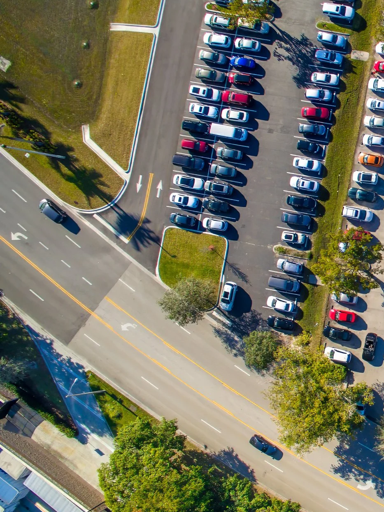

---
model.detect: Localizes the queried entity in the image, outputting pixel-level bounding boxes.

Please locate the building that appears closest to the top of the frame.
[0,441,32,481]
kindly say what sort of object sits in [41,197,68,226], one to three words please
car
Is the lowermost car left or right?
right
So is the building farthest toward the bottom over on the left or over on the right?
left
